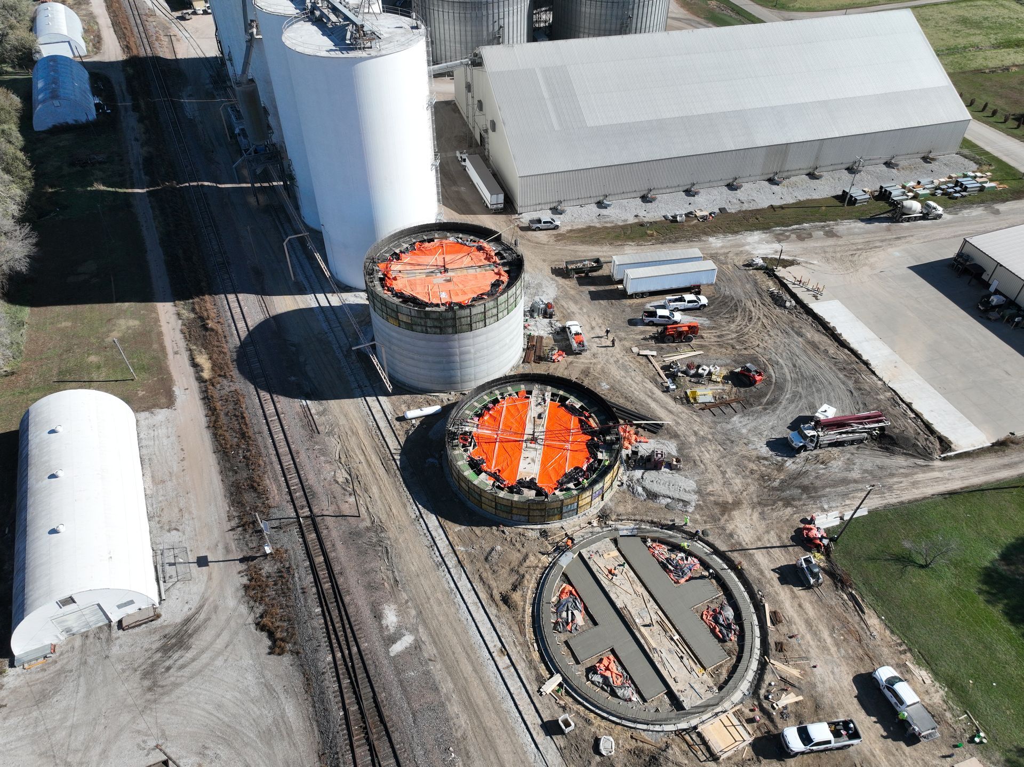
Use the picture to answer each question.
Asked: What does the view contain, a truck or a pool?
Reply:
truck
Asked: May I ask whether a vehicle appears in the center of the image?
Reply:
Yes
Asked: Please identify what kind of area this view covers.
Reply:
industrial area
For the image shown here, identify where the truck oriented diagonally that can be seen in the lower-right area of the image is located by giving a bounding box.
[866,661,942,744]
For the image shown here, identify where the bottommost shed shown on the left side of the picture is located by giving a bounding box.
[5,394,162,659]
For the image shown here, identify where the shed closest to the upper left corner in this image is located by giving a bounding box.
[38,4,99,57]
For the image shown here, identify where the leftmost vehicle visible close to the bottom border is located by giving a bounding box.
[778,721,861,758]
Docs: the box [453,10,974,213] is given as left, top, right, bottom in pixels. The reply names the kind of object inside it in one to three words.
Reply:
building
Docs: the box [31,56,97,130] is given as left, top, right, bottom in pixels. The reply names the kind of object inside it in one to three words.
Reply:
shed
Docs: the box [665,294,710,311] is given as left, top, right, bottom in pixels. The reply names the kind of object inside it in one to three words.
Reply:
vehicle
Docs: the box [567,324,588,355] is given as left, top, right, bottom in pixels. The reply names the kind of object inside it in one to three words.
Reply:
truck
